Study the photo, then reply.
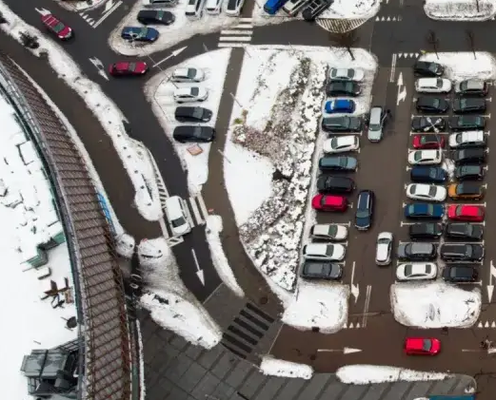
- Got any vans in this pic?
Yes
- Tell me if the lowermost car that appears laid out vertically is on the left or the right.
right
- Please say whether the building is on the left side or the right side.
left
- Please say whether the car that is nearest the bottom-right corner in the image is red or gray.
red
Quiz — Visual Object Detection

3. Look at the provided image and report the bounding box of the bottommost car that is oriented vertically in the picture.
[375,228,395,269]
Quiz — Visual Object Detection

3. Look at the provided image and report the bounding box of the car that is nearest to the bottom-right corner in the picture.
[403,336,442,356]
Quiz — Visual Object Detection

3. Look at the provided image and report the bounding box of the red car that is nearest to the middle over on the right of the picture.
[313,193,347,211]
